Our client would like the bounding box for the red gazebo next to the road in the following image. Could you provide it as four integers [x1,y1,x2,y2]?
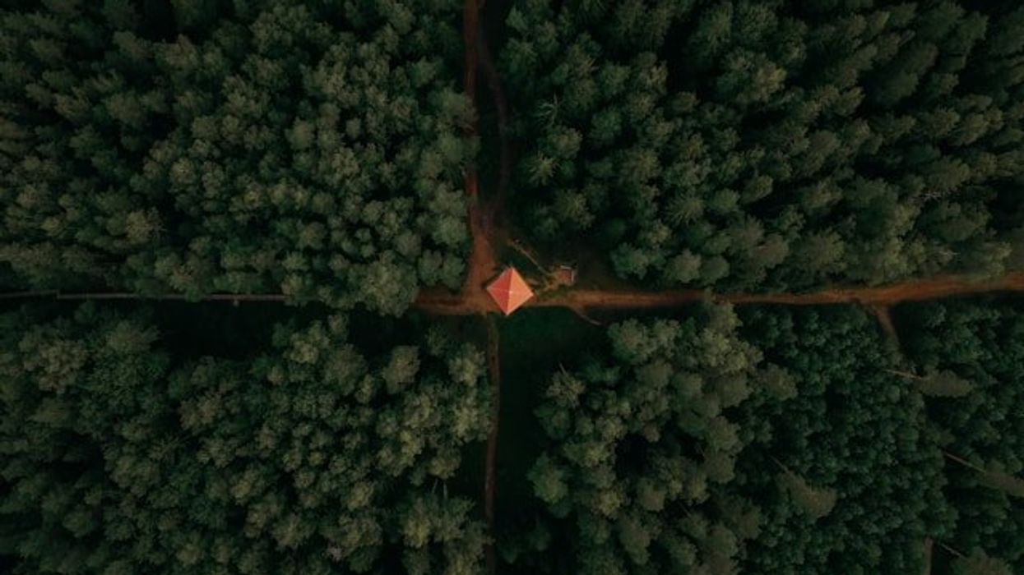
[487,267,533,315]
